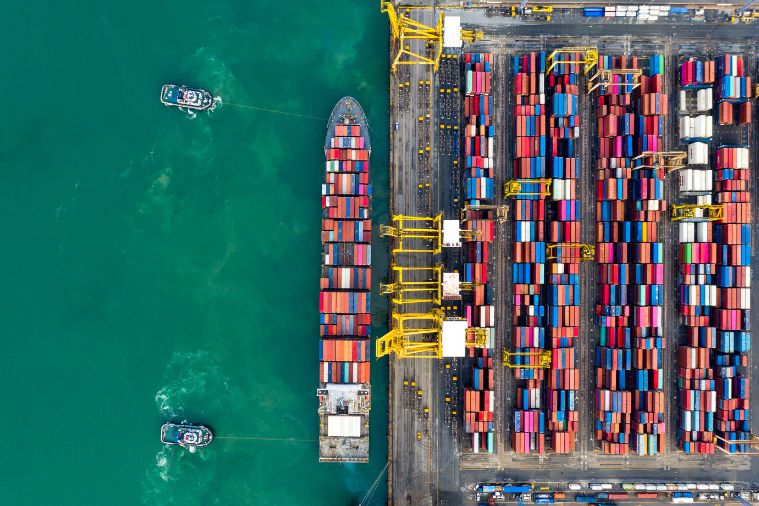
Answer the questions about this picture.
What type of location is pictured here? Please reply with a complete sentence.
The picture captures a port.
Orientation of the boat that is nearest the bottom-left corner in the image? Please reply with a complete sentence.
What the image shows is the boat that is nearest the bottom-left corner lying from left to right.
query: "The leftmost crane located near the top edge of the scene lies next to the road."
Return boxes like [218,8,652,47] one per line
[380,0,477,74]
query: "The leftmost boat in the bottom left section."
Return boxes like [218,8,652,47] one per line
[160,422,213,447]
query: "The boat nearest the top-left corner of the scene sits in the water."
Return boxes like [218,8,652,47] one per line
[160,83,213,111]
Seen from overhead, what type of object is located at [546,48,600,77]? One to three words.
container crane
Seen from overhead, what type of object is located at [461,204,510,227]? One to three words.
container crane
